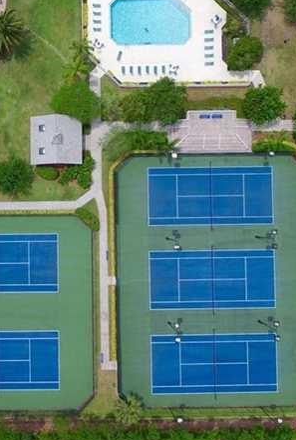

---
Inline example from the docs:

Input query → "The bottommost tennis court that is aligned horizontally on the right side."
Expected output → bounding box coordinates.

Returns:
[119,323,296,407]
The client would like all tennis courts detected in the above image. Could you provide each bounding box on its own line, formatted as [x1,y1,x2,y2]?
[0,313,93,410]
[116,156,296,238]
[0,213,92,313]
[118,238,296,323]
[119,323,296,407]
